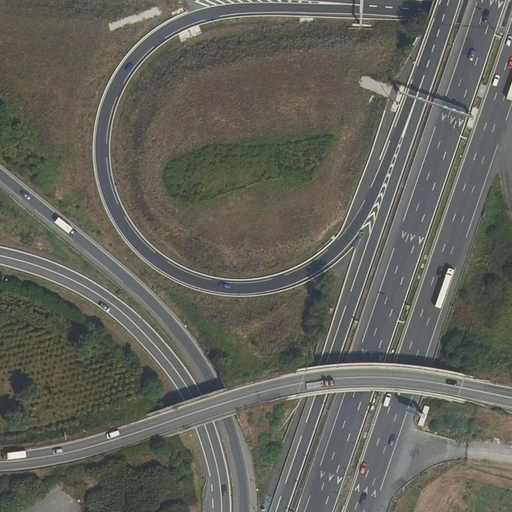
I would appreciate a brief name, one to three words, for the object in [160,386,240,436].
overpass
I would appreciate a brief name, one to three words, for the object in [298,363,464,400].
overpass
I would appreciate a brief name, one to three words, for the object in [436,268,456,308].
vehicle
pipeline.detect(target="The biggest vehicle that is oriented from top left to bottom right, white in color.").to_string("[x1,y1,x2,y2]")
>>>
[55,216,76,236]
